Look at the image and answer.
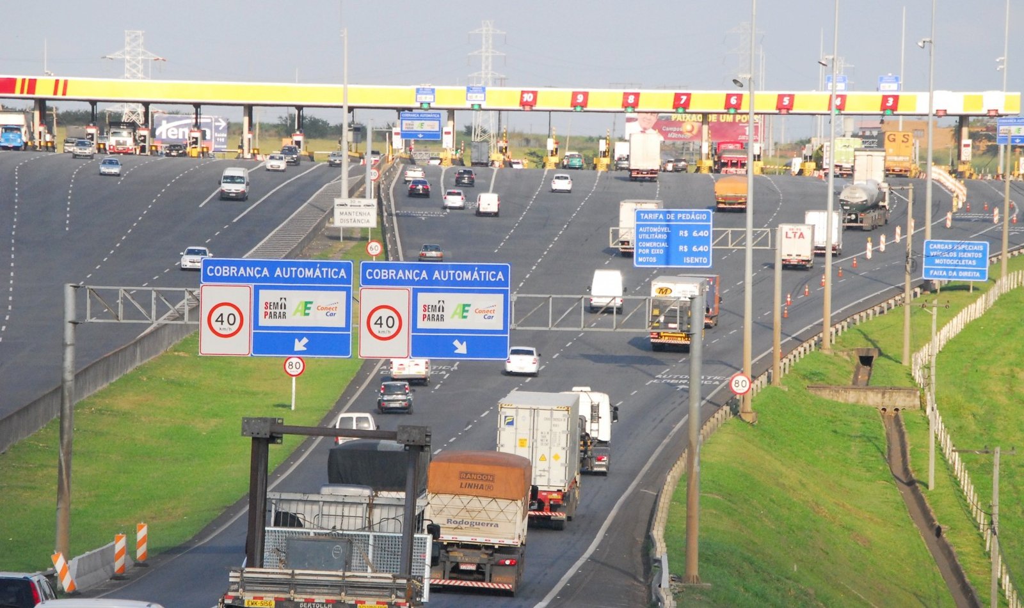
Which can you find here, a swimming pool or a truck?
truck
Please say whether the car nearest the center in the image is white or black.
white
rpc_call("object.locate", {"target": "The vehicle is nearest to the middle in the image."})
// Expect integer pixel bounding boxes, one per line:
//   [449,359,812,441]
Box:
[507,343,545,375]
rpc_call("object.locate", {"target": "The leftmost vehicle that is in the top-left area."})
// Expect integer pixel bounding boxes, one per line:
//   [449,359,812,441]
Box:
[0,117,36,155]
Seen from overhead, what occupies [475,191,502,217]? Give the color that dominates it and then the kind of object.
white vehicle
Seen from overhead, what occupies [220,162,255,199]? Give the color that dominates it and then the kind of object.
white vehicle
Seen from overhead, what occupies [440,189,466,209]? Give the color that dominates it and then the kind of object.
white car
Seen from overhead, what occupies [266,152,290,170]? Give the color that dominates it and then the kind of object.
white car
